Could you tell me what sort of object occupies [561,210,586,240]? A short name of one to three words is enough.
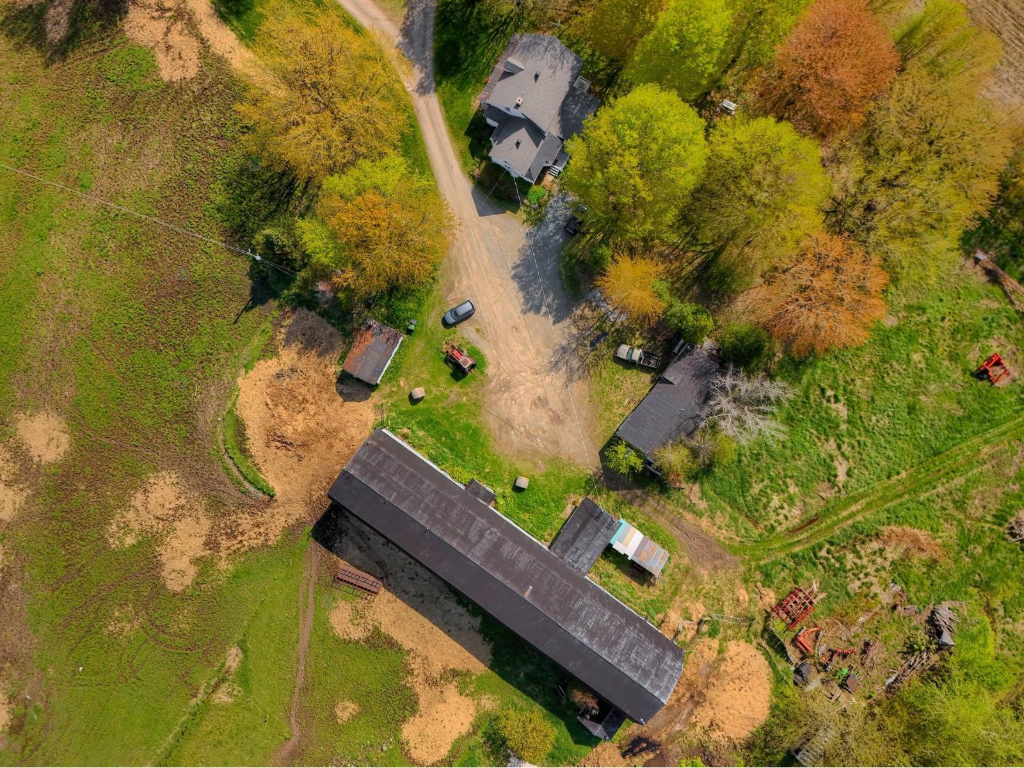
car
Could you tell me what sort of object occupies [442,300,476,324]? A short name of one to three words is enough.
car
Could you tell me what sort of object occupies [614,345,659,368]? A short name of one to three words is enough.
truck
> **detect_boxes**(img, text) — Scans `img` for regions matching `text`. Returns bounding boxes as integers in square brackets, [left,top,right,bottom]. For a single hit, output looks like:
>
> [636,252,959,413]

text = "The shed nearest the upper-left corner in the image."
[342,318,403,386]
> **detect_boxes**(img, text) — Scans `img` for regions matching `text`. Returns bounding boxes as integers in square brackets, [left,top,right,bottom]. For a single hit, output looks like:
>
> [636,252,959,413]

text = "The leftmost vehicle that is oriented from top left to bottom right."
[440,341,474,373]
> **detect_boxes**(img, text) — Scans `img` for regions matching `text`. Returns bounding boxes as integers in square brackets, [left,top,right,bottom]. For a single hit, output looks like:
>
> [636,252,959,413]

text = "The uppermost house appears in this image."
[478,32,598,196]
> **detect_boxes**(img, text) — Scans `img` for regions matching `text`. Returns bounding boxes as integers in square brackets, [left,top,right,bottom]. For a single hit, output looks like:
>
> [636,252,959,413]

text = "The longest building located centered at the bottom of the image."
[328,428,686,722]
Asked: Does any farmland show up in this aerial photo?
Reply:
Yes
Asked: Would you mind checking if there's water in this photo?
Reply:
No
